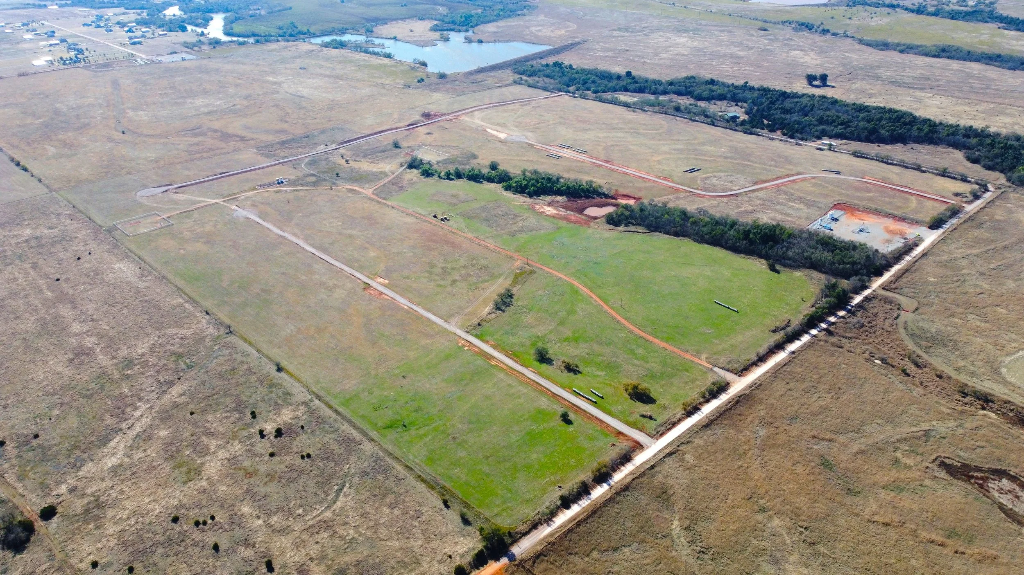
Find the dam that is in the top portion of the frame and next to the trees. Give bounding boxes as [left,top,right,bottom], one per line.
[450,37,593,78]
